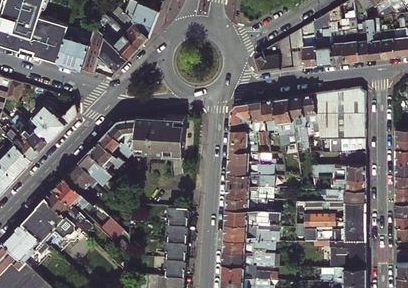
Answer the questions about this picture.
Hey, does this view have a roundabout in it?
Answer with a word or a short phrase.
Yes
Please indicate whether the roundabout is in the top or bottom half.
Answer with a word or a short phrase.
top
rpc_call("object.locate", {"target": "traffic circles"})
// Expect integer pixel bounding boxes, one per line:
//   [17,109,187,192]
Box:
[160,22,235,97]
